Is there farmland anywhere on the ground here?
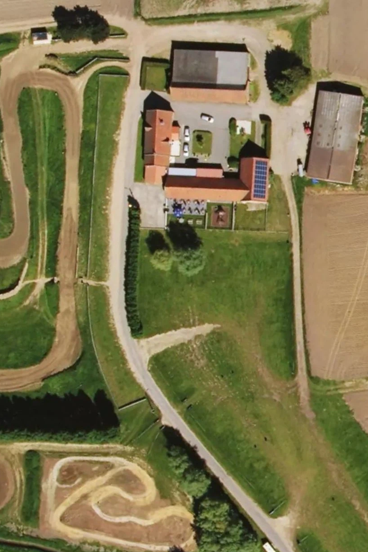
Yes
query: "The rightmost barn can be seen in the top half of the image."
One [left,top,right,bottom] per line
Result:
[305,90,365,185]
